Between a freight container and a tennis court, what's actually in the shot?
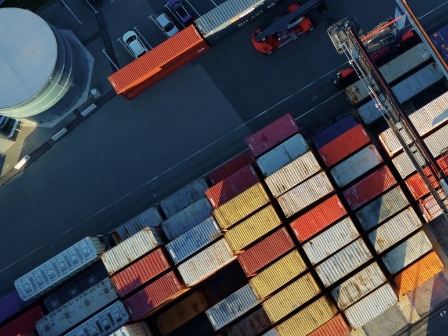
freight container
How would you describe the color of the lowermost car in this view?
blue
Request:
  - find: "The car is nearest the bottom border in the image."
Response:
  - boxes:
[123,30,149,59]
